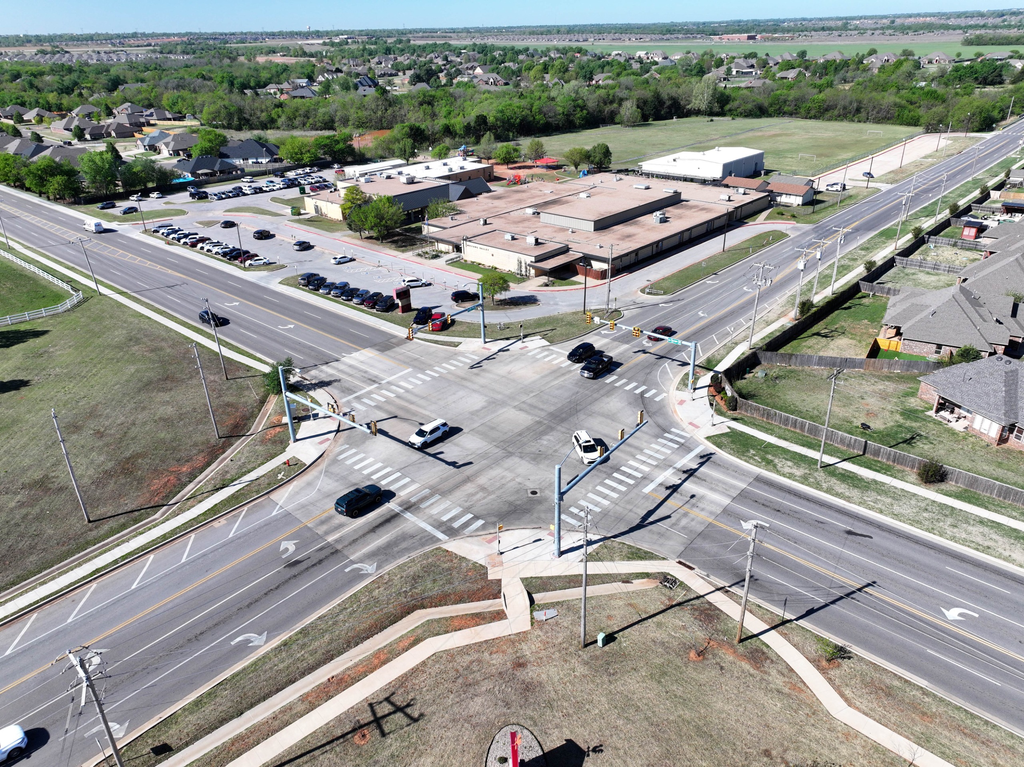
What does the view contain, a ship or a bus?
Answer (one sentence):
There is a bus in the scene.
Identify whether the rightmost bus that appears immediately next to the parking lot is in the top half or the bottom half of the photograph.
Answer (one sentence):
You can find the rightmost bus that appears immediately next to the parking lot in the top half.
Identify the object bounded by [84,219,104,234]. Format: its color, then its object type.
white vehicle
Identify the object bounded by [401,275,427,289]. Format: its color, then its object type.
white car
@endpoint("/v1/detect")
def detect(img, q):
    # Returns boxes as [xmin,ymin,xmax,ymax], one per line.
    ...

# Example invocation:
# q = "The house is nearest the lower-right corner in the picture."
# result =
[886,355,1024,466]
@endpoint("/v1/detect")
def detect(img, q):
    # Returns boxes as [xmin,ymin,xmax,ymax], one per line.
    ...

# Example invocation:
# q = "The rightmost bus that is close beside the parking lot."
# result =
[851,137,986,184]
